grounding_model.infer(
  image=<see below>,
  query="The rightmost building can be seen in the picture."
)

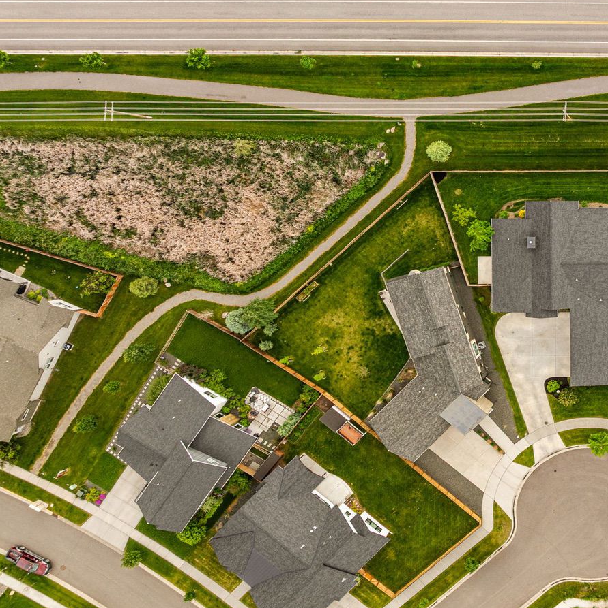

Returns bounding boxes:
[492,201,608,386]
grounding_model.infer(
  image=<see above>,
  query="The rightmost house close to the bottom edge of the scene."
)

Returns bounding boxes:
[210,456,395,608]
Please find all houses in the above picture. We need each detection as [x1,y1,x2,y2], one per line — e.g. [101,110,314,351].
[492,201,608,386]
[210,456,395,608]
[0,267,91,441]
[369,266,493,463]
[116,373,258,532]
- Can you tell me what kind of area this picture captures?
residential area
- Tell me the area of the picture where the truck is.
bottom left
